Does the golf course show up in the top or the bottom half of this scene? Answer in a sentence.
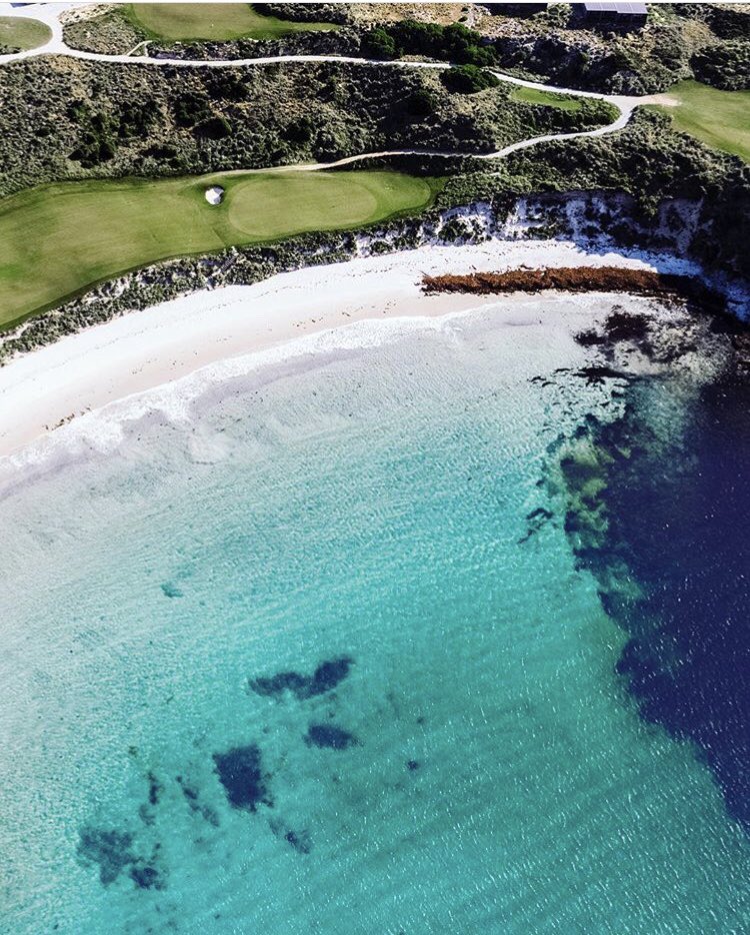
The golf course sits in the top half of the picture.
